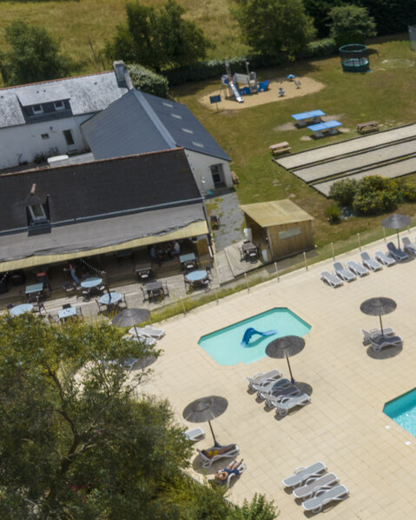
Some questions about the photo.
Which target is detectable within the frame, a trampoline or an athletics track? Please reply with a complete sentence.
Looking from above, you can make out a trampoline.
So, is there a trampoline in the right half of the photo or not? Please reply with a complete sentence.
Yes, a trampoline shows up in the right half of the photo.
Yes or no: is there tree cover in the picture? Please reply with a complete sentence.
Yes, tree cover shows up in the scene.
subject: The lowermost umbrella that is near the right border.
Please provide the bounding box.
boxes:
[360,297,398,330]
